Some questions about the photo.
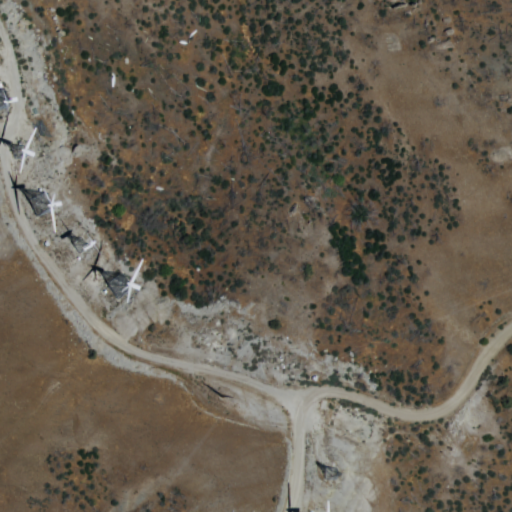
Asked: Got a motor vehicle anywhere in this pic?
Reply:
No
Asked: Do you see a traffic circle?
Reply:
No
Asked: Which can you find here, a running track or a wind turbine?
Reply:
wind turbine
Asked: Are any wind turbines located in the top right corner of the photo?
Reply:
No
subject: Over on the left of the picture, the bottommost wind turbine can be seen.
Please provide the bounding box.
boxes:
[117,260,142,301]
